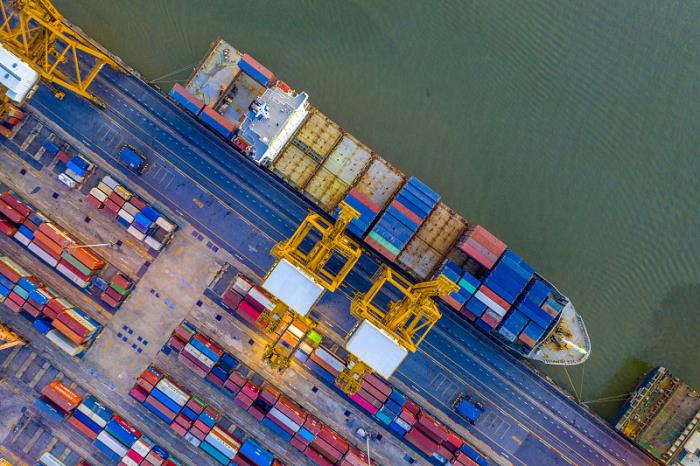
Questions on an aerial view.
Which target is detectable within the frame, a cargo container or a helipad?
cargo container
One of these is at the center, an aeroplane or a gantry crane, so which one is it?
gantry crane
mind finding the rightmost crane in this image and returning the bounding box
[320,258,464,400]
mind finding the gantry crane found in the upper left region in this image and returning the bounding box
[0,0,135,113]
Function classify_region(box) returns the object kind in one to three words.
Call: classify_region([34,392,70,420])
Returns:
shipping container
